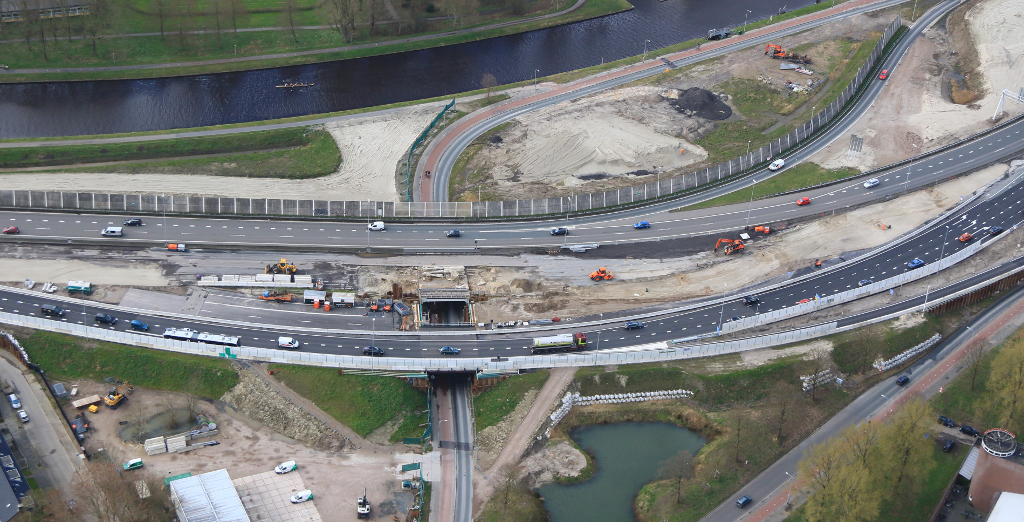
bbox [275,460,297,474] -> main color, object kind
white vehicle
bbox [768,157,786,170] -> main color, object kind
white vehicle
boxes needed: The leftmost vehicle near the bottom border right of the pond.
[736,496,751,508]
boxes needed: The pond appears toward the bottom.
[537,421,707,522]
